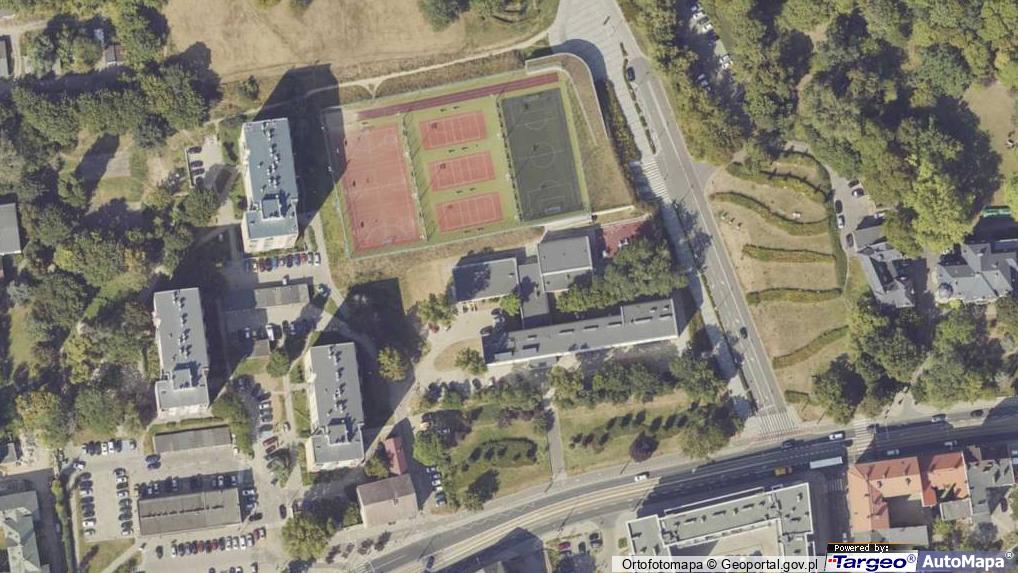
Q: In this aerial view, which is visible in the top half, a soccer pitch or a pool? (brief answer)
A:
soccer pitch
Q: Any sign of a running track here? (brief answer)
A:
Yes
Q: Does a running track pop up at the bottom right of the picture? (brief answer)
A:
No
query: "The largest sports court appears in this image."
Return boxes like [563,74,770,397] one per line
[342,124,421,253]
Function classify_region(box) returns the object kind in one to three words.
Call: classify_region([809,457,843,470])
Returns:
vehicle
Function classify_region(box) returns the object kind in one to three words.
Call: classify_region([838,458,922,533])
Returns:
building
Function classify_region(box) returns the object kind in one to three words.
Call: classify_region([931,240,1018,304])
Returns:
house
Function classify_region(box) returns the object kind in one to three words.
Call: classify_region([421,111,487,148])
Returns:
sports court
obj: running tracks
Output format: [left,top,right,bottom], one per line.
[358,73,560,119]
